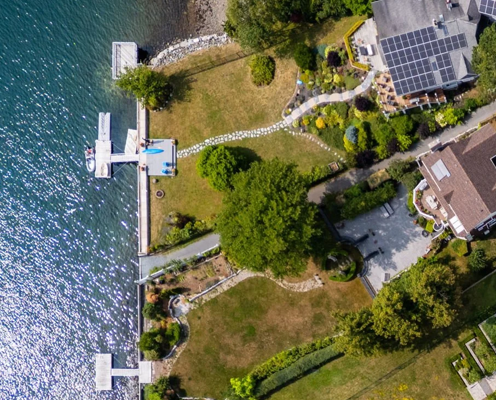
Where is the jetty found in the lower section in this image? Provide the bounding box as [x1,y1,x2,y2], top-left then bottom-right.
[95,354,153,390]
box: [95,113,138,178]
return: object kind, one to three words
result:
pier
